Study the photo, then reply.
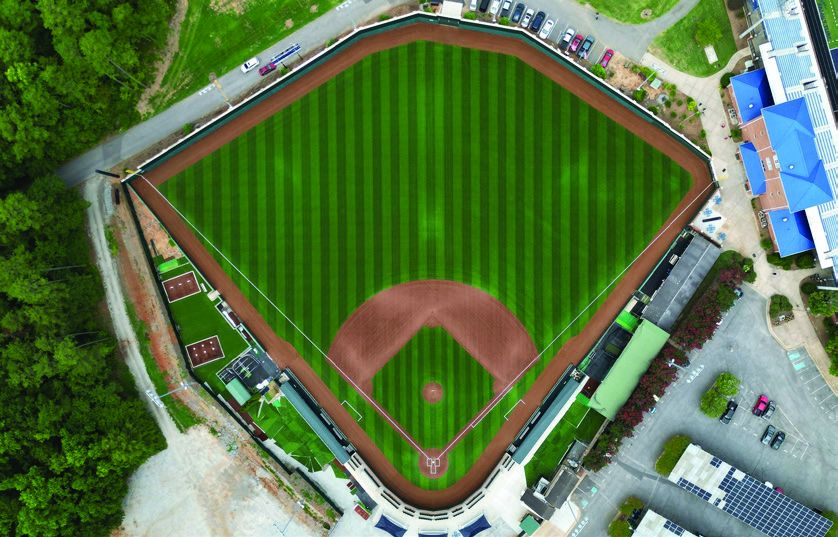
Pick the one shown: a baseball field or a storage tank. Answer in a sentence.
I can see a baseball field in this picture.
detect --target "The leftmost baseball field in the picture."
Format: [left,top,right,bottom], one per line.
[128,23,717,510]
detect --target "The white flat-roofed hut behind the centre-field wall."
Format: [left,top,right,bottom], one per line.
[441,1,463,18]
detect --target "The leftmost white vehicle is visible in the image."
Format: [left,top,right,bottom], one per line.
[242,56,260,70]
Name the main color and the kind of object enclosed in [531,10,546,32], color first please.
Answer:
blue car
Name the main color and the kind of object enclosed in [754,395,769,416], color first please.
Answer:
pink car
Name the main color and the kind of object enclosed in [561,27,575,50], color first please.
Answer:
white vehicle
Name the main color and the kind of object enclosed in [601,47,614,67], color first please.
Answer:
red vehicle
